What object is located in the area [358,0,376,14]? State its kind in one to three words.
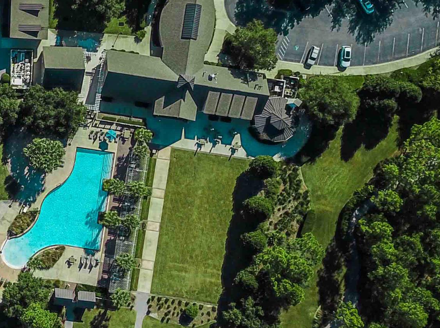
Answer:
vehicle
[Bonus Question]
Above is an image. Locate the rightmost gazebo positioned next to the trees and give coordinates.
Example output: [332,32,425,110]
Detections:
[255,99,305,143]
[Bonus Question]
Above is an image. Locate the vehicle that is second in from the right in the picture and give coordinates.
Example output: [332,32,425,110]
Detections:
[341,44,354,68]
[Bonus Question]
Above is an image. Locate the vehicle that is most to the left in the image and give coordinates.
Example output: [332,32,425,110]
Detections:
[306,45,322,67]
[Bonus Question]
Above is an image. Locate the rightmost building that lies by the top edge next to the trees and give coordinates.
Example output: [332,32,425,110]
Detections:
[100,0,274,121]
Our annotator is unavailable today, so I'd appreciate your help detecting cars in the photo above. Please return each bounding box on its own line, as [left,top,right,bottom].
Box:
[306,45,322,67]
[341,44,354,68]
[358,0,376,14]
